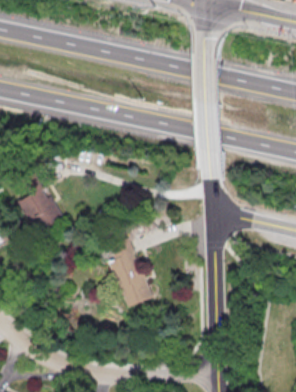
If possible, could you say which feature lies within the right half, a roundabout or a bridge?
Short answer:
bridge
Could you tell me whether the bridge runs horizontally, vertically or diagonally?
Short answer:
vertically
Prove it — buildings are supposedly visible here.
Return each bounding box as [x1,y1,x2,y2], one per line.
[18,179,64,226]
[112,236,156,306]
